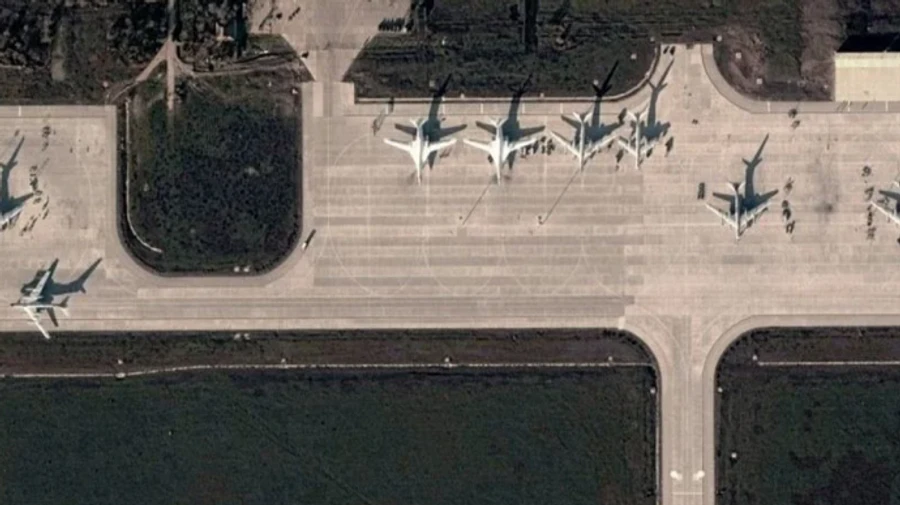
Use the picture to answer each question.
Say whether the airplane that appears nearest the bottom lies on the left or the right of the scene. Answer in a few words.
left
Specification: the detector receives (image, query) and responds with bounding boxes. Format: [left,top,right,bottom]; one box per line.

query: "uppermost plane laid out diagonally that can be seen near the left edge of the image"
[0,202,26,227]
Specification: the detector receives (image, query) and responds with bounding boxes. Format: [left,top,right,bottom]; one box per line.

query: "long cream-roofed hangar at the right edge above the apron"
[836,52,900,100]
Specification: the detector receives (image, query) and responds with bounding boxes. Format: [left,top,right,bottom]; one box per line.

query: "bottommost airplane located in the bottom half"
[11,271,70,337]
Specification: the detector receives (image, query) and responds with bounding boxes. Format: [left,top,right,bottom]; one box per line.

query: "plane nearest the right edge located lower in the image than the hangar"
[873,201,900,227]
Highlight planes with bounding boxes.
[462,118,535,184]
[549,112,615,174]
[618,108,658,169]
[706,183,769,240]
[0,202,26,227]
[383,119,455,186]
[11,271,70,337]
[873,201,900,227]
